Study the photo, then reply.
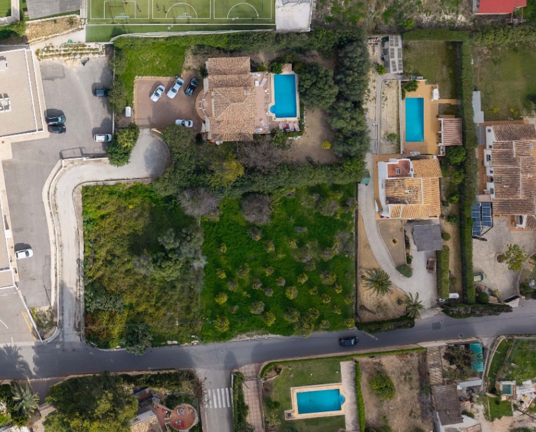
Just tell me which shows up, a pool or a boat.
pool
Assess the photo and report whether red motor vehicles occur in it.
No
